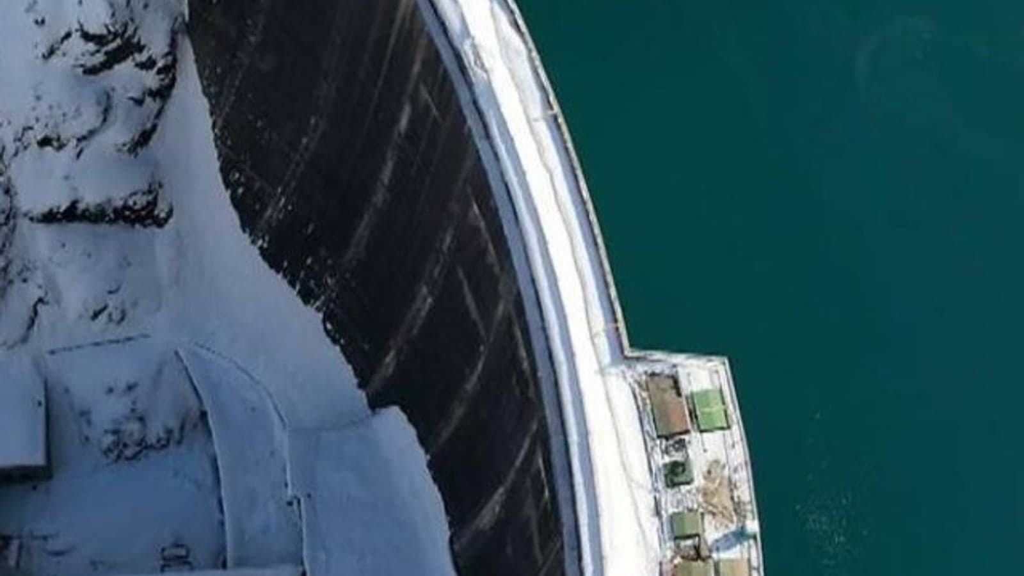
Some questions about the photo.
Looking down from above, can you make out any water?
Yes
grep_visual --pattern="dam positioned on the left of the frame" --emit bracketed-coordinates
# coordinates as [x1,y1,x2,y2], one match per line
[181,0,627,576]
